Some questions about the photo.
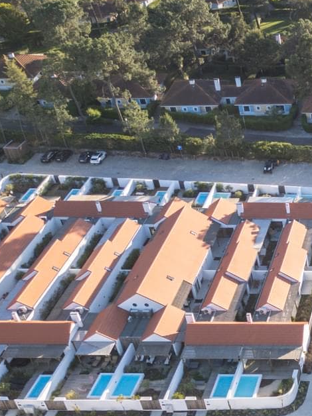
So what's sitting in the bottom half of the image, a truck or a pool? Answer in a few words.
pool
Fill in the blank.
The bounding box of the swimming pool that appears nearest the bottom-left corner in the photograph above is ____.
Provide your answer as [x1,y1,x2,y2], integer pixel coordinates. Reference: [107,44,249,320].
[25,373,55,398]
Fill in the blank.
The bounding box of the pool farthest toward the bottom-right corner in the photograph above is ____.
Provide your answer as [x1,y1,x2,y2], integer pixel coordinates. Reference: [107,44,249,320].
[235,373,267,398]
